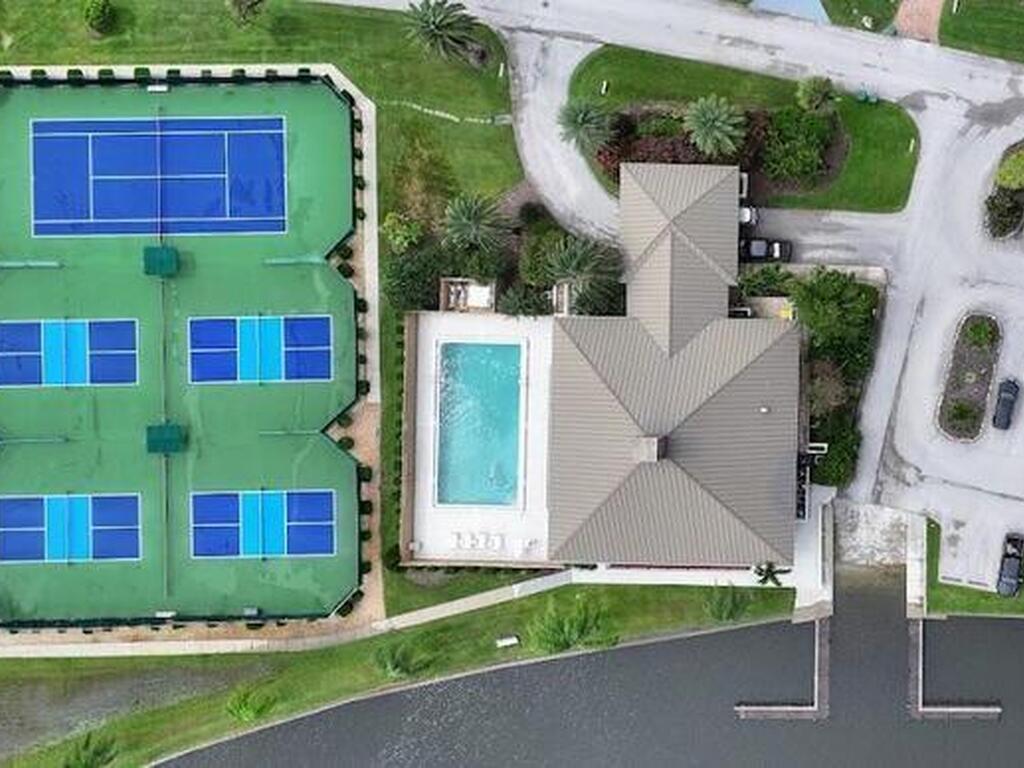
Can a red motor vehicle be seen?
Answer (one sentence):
No, there appears to be no red motor vehicle in this shot.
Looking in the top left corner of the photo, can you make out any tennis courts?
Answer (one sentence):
Yes, the scene does show a tennis court in the top left corner of the photo.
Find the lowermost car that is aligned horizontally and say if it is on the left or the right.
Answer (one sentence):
The lowermost car that is aligned horizontally is on the right side of the image.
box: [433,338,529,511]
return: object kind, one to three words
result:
swimming pool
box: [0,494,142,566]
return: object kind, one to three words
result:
sports court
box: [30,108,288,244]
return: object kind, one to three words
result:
tennis court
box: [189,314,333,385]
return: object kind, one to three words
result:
sports court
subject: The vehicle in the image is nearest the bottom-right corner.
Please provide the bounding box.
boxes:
[997,532,1024,600]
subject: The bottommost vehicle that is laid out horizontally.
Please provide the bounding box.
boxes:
[739,236,791,262]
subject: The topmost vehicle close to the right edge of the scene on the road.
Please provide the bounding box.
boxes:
[992,378,1021,432]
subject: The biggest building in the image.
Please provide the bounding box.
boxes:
[548,163,801,569]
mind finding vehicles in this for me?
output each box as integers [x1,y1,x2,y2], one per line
[739,236,791,262]
[997,532,1024,600]
[992,378,1021,432]
[739,206,762,223]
